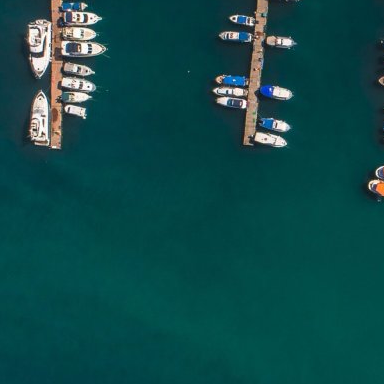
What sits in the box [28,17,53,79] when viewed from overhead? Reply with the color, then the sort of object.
white boat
